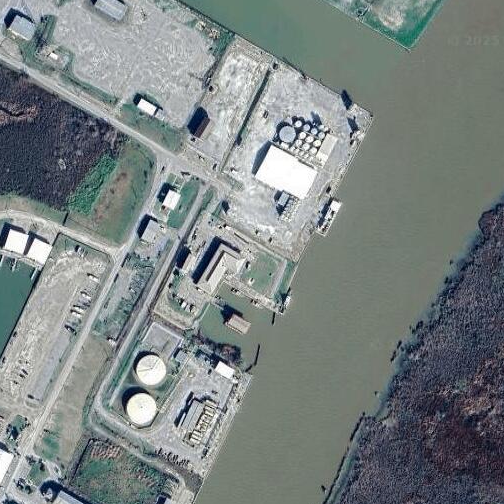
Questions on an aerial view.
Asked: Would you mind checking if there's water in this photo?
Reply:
Yes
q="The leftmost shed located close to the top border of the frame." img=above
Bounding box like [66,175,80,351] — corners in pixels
[8,15,35,39]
